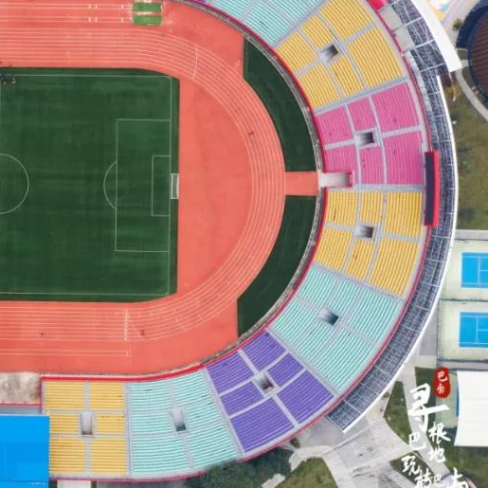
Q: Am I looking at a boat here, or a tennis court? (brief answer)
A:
tennis court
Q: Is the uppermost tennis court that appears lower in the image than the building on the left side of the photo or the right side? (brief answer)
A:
right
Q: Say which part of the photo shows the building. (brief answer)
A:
top right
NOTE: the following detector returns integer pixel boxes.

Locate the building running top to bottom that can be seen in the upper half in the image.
[450,0,488,94]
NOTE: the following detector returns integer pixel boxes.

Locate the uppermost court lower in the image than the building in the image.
[447,238,488,299]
